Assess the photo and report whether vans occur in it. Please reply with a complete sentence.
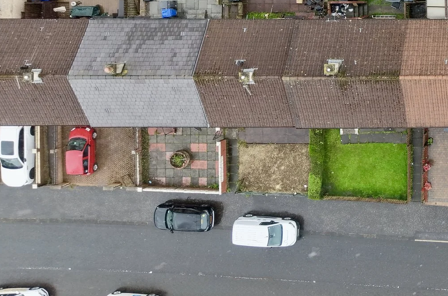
Yes, this view includes a van.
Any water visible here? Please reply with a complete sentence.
No, the scene doesn't show any water.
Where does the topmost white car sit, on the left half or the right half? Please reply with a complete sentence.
The topmost white car sits on the left side.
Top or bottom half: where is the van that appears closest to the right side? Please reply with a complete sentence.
It is in the bottom half that the van that appears closest to the right side appears.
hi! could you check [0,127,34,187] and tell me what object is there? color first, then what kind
white car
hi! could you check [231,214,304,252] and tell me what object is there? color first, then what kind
white van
